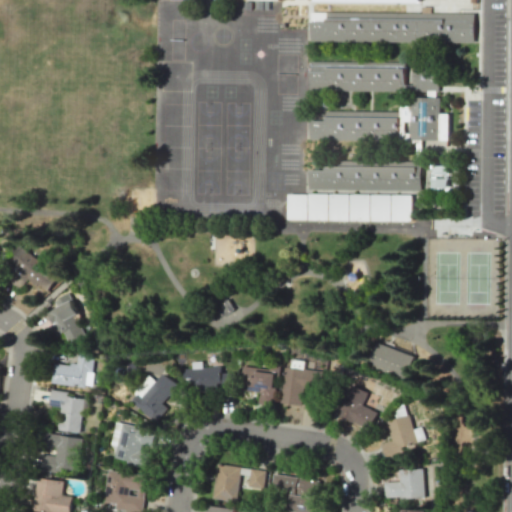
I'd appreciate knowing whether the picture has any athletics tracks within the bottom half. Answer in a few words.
No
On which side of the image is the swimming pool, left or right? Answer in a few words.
left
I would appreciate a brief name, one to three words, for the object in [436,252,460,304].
tennis court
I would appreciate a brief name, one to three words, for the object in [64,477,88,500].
swimming pool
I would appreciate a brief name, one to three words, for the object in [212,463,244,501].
house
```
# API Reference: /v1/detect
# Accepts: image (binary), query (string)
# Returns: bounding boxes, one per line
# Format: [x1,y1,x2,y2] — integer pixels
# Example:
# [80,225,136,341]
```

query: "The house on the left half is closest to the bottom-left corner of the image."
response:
[34,476,74,512]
